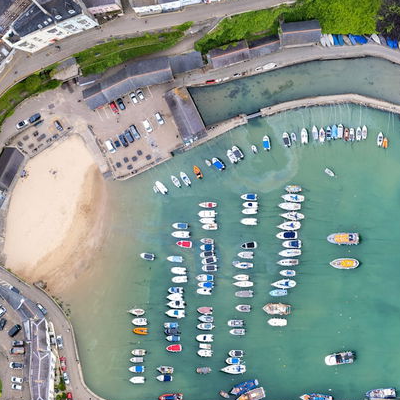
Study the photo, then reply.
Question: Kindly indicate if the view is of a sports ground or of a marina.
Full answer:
The picture captures a marina.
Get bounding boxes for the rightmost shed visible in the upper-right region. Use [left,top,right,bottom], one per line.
[279,19,322,51]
